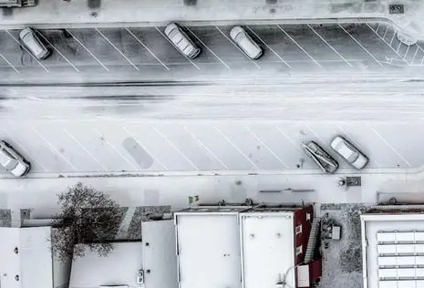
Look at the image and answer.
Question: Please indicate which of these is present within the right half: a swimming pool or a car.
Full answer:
It is a car that can be seen within the right half.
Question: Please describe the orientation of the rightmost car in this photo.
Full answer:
From this overhead view, the rightmost car appears to run on a diagonal.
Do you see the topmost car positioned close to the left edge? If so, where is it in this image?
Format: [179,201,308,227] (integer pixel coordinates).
[20,25,53,61]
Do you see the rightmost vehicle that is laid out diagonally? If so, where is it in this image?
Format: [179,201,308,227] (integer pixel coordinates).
[331,135,368,170]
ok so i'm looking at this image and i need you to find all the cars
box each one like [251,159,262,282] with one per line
[20,25,53,61]
[331,135,368,170]
[0,138,32,176]
[308,141,340,175]
[230,22,265,60]
[164,20,203,60]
